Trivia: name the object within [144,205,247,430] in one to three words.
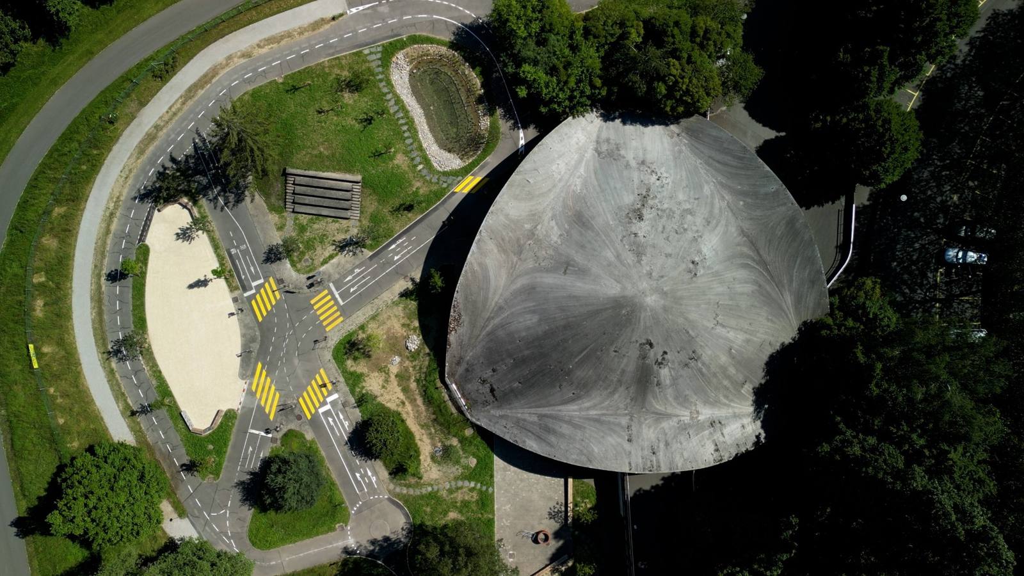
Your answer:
sports field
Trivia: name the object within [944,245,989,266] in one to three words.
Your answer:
car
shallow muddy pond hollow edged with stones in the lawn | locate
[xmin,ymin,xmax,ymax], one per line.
[390,43,490,171]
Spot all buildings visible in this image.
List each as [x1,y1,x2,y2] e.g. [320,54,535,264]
[445,98,836,475]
